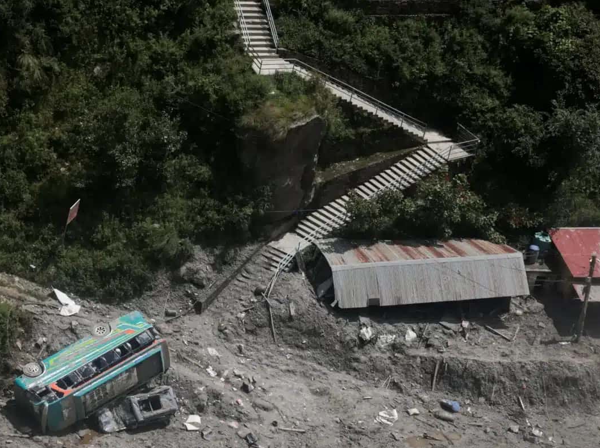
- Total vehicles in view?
two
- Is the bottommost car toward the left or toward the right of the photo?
left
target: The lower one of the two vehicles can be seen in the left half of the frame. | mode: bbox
[92,381,181,439]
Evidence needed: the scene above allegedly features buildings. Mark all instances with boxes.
[314,240,530,322]
[551,226,600,324]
